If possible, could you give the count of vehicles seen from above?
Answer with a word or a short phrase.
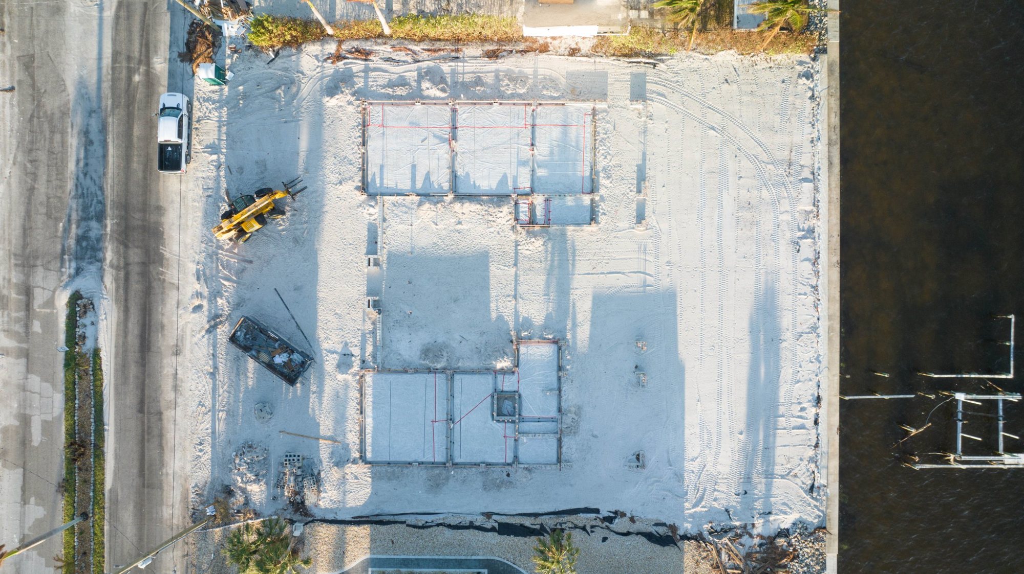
2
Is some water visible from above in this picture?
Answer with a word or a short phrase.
Yes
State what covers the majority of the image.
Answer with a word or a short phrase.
paved ground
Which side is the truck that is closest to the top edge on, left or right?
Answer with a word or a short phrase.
left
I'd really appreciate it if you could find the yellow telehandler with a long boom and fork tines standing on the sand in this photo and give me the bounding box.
[211,176,310,243]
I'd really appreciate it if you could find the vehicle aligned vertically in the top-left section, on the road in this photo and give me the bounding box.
[152,93,192,174]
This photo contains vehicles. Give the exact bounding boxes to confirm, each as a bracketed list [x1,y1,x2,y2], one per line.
[152,93,192,174]
[211,176,310,243]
